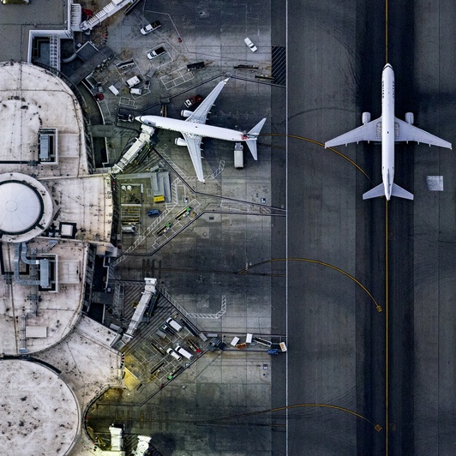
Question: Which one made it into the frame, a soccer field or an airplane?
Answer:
airplane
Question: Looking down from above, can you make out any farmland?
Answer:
No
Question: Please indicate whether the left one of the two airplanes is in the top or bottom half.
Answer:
top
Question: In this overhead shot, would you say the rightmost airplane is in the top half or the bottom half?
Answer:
top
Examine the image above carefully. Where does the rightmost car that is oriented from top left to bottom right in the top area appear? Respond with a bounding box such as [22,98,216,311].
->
[244,37,257,52]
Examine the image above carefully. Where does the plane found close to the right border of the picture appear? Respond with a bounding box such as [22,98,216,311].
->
[324,64,453,199]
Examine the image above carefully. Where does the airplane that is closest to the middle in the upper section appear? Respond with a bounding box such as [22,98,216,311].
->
[137,76,264,180]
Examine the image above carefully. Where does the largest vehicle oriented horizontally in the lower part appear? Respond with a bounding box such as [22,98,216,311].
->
[203,334,232,352]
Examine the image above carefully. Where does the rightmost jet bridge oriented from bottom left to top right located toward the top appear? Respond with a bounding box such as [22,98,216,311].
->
[109,119,161,176]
